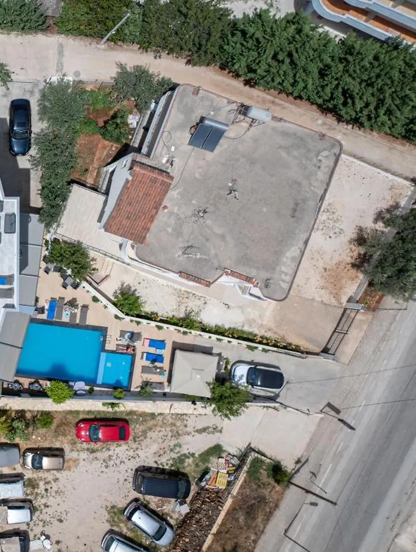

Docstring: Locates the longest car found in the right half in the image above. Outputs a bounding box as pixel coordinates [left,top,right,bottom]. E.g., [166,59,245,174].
[228,363,285,393]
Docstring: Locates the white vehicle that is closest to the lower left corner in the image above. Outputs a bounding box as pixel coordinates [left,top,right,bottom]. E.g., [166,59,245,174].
[0,502,34,526]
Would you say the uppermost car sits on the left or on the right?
left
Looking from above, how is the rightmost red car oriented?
from side to side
